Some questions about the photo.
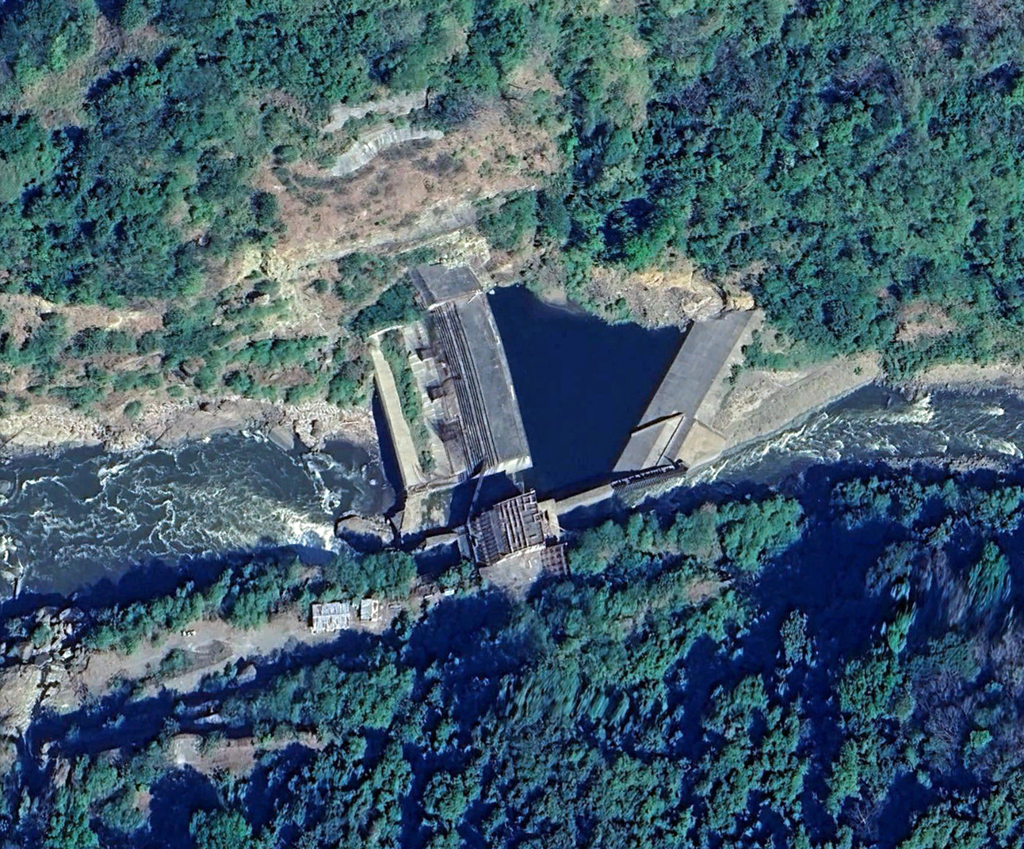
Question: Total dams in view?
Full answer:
The picture shows 2 dams.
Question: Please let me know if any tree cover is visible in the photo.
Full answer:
Yes, tree cover shows up in the scene.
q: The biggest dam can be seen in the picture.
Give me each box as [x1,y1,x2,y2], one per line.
[371,263,530,496]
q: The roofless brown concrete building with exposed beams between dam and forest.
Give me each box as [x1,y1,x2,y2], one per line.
[468,490,565,569]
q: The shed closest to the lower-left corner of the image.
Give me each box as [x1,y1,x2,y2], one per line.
[312,603,350,631]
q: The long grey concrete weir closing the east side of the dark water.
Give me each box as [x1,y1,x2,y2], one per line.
[612,314,749,474]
